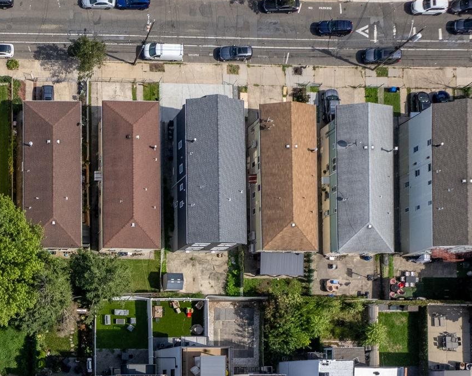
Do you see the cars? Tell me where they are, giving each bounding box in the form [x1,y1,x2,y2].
[316,18,354,36]
[364,46,400,65]
[452,18,472,36]
[432,88,451,103]
[0,0,11,10]
[218,44,253,63]
[412,92,431,117]
[81,0,114,11]
[411,0,448,15]
[0,44,15,60]
[449,0,472,15]
[321,90,342,119]
[40,82,56,102]
[261,0,296,14]
[115,0,149,11]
